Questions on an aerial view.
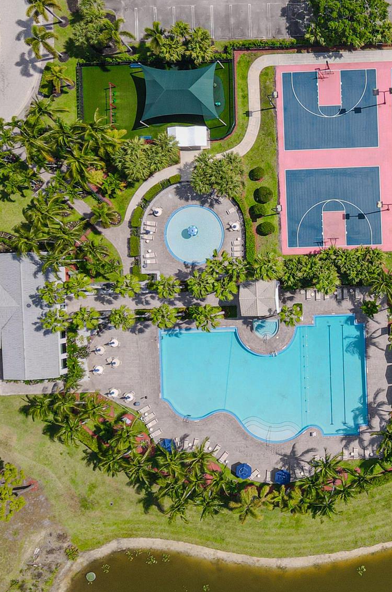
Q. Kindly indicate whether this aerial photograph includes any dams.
No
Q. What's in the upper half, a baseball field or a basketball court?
basketball court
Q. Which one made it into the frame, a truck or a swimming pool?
swimming pool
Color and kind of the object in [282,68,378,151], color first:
blue basketball court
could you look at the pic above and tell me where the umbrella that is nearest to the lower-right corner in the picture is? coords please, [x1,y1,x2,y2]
[275,469,292,484]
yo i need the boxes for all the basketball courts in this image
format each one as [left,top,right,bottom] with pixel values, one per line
[284,165,382,248]
[282,68,378,151]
